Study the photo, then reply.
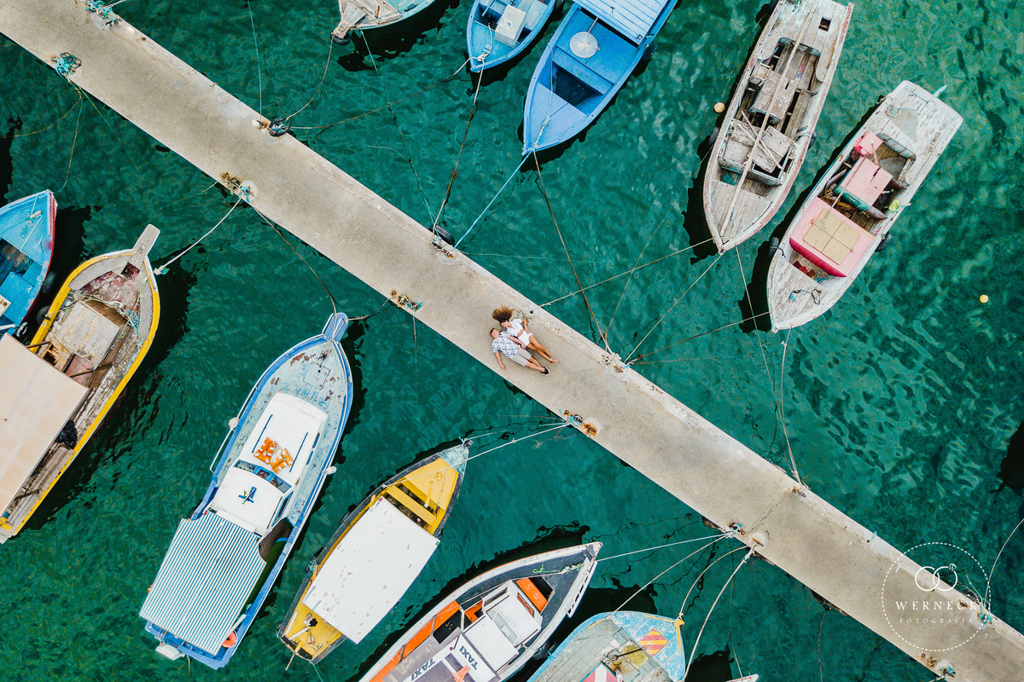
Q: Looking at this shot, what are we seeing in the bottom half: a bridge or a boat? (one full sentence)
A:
Looking in the bottom half, you will find a boat.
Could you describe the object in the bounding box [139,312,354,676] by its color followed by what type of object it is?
white boat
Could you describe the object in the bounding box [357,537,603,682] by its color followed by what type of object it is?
white boat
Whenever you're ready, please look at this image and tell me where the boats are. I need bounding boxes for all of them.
[357,537,603,682]
[762,81,961,333]
[139,312,354,676]
[464,0,557,80]
[277,438,474,671]
[0,189,75,341]
[526,606,686,682]
[332,0,440,42]
[698,662,759,682]
[0,224,168,545]
[522,0,677,157]
[701,0,853,254]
